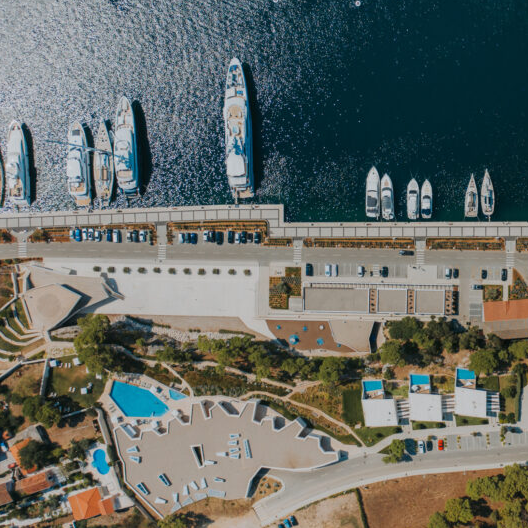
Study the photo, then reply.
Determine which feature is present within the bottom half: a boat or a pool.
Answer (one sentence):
Looking within the bottom half, you will find a pool.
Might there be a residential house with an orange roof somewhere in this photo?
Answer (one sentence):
Yes, there is a residential house with an orange roof in the image.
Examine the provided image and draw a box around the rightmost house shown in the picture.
[484,300,528,339]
